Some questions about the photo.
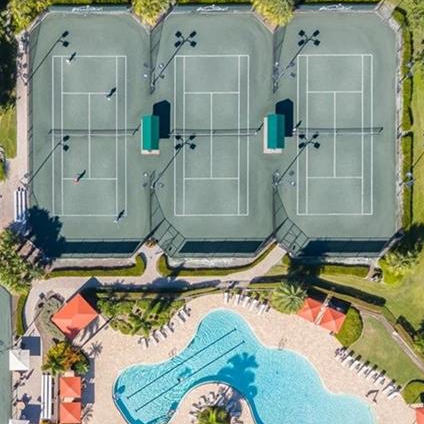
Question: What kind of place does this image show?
sports ground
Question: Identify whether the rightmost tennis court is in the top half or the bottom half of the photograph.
top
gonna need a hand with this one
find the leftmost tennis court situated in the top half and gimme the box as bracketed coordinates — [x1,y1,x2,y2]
[28,12,151,258]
